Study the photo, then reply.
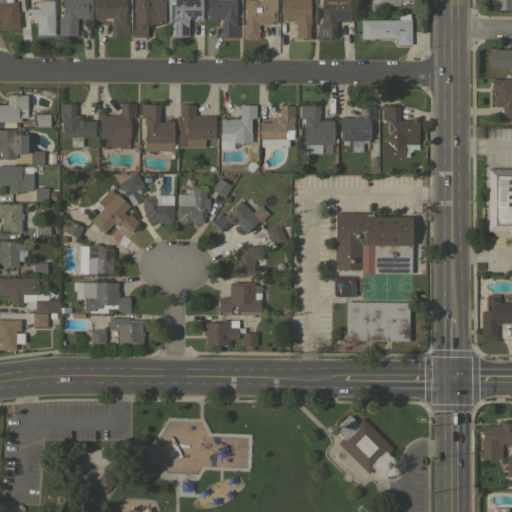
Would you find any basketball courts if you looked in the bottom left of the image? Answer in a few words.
No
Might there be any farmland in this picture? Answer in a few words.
No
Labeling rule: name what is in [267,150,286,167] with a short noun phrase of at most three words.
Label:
swimming pool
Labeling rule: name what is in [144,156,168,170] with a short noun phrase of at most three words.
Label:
swimming pool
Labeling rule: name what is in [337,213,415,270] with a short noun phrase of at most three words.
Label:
building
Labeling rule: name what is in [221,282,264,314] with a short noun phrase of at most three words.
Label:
house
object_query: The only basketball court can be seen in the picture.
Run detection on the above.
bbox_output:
[362,274,412,300]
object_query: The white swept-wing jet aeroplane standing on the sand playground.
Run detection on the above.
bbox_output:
[170,438,191,462]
